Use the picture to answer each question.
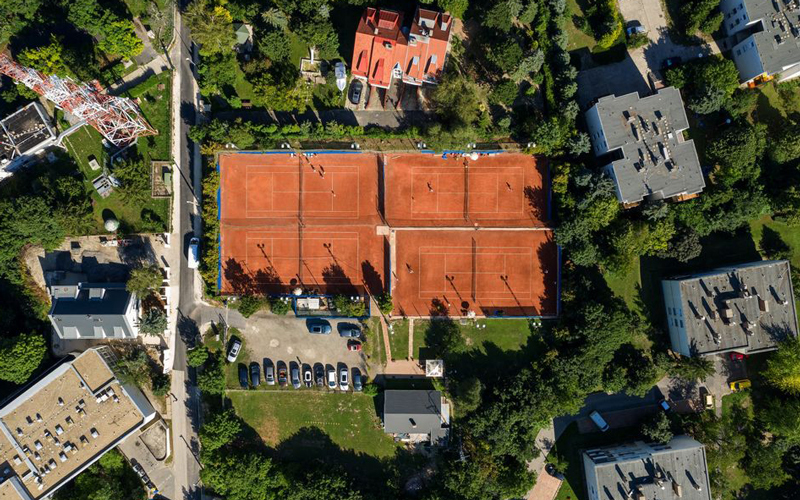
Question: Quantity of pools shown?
zero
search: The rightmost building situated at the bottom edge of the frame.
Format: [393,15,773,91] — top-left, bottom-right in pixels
[582,431,712,500]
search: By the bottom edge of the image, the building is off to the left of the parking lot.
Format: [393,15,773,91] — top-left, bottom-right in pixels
[0,344,159,500]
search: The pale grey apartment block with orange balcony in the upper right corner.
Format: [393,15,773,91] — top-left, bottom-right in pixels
[717,0,800,88]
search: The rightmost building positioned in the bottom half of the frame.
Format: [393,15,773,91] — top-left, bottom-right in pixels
[662,259,800,357]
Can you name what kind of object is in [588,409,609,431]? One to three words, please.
vehicle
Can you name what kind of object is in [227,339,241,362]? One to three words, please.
car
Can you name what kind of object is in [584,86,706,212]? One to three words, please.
building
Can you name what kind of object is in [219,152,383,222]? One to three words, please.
tennis court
